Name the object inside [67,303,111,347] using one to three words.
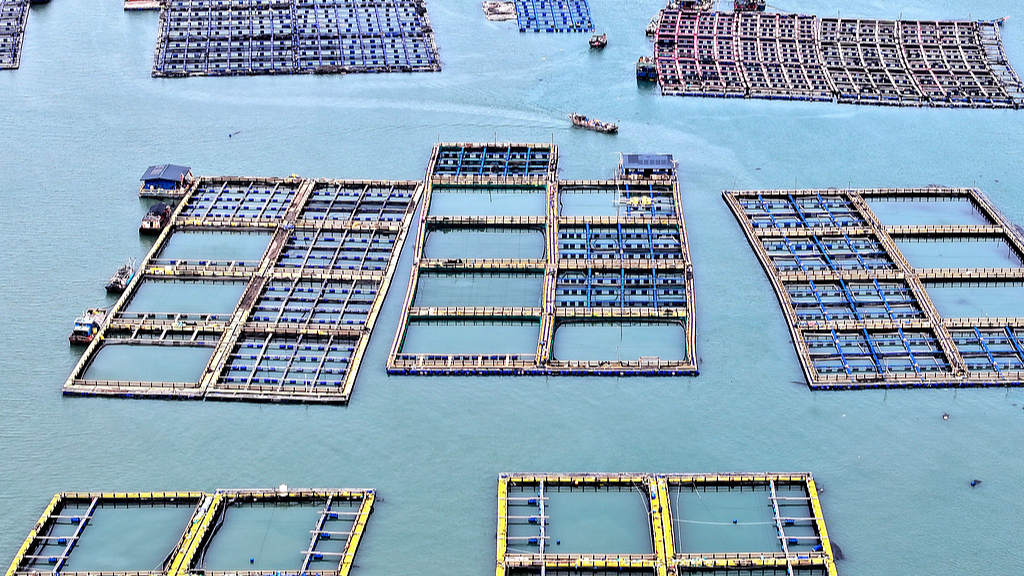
boat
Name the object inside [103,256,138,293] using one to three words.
boat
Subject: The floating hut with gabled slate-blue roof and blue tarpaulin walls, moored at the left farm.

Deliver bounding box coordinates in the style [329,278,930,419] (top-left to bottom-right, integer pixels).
[136,164,194,198]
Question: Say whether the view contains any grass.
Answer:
No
